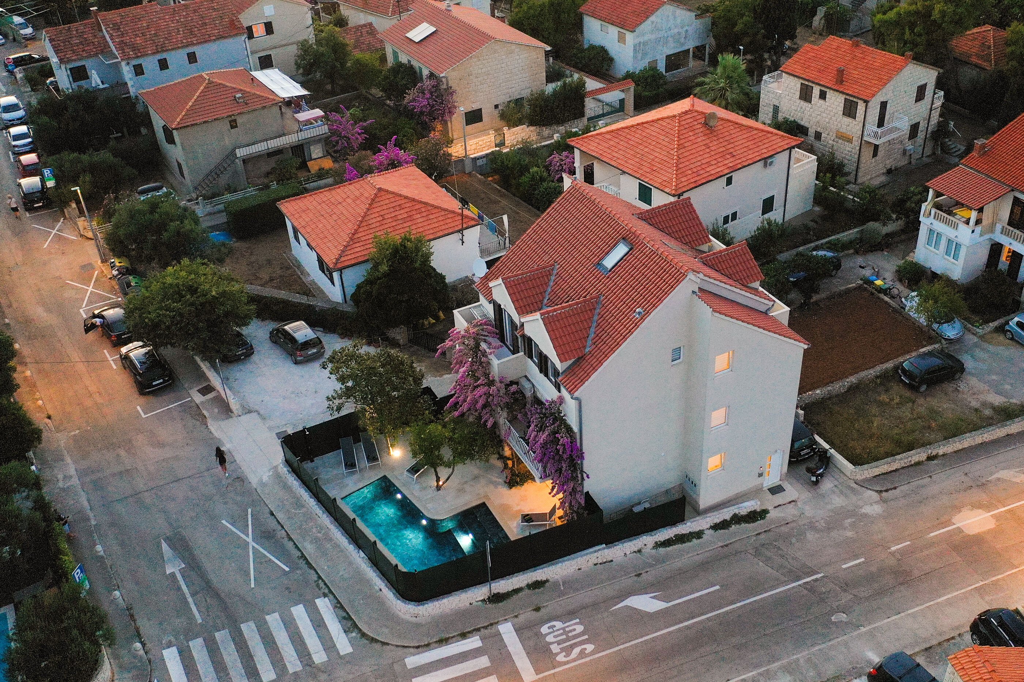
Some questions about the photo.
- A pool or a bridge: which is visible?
pool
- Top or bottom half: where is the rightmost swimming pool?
bottom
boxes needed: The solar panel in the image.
[405,22,438,43]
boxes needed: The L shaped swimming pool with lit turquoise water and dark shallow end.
[339,470,521,574]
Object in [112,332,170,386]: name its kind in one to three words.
car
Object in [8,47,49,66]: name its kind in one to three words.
car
